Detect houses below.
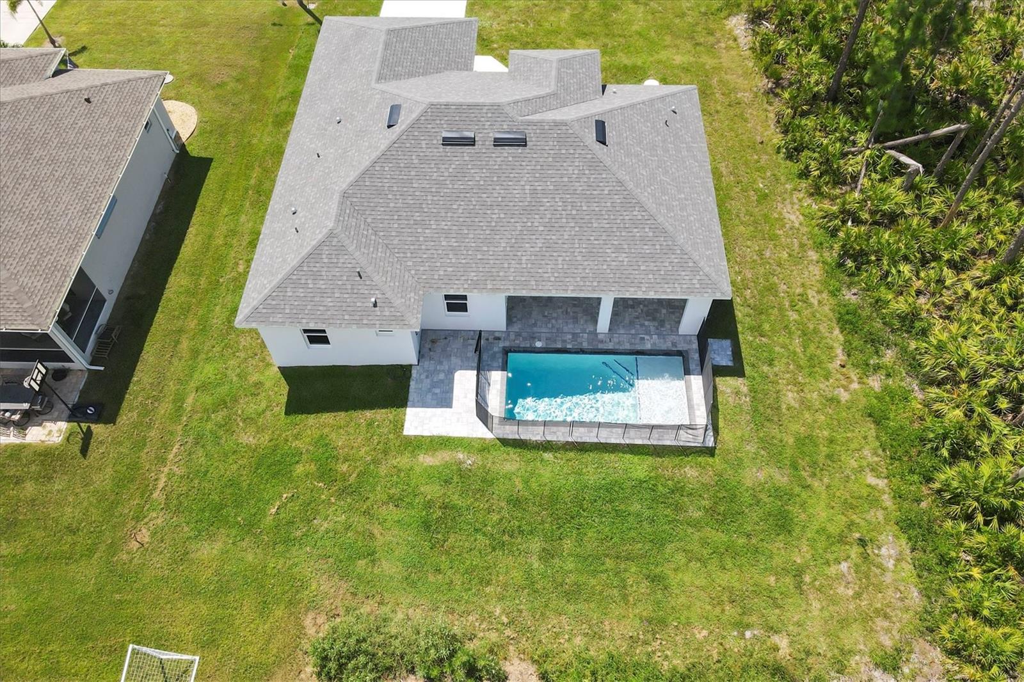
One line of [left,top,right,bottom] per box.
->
[0,47,178,372]
[237,16,731,368]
